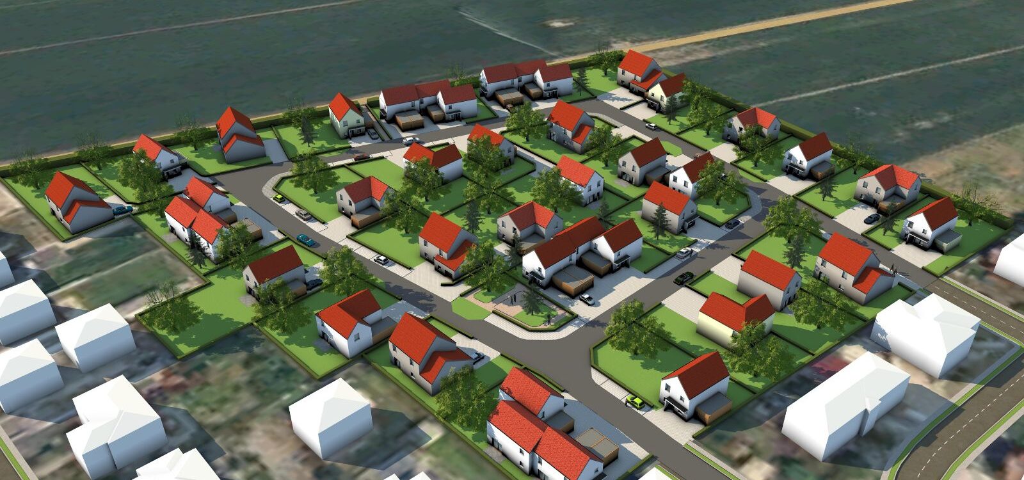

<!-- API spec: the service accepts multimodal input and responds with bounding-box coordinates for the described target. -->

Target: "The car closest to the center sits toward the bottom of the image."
[578,293,596,306]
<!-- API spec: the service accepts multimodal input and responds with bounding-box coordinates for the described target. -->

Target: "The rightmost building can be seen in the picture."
[992,236,1024,288]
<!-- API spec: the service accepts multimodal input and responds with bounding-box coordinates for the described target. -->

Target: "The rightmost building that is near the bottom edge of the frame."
[783,352,910,459]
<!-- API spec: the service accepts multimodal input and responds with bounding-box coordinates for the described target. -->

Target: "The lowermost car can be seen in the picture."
[625,397,646,410]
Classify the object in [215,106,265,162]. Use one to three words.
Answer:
house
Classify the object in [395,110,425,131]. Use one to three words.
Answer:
building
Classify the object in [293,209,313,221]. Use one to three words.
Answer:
vehicle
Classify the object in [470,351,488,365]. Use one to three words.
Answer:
car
